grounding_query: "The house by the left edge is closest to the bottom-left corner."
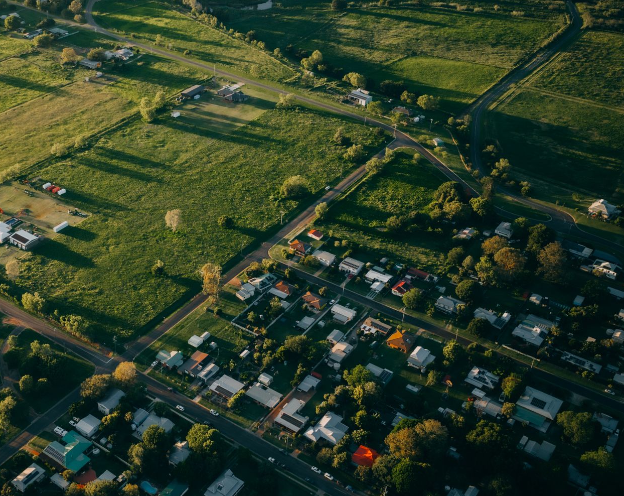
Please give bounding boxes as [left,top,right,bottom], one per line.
[10,464,46,496]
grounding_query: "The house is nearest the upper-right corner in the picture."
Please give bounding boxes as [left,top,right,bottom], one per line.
[589,199,617,219]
